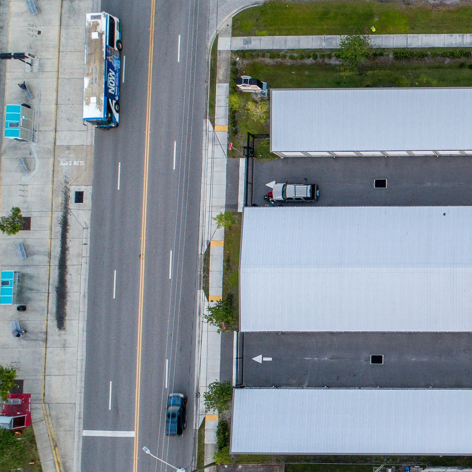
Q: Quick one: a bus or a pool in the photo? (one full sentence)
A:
Visible in the photo is a bus.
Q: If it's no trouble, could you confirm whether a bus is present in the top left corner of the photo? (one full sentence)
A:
Yes, a bus is visible in the top left corner of the photo.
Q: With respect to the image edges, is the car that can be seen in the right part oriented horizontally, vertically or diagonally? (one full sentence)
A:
What the image shows is the car that can be seen in the right part lying horizontally.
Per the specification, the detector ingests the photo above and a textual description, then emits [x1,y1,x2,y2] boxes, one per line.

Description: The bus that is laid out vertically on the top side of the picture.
[82,12,122,129]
